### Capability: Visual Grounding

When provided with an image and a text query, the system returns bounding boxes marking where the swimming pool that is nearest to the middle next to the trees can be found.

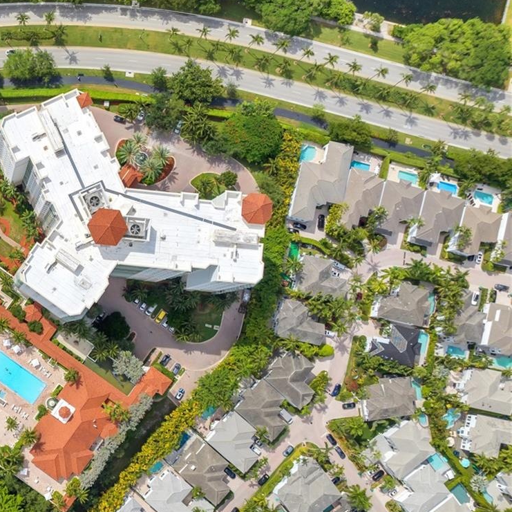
[287,241,300,259]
